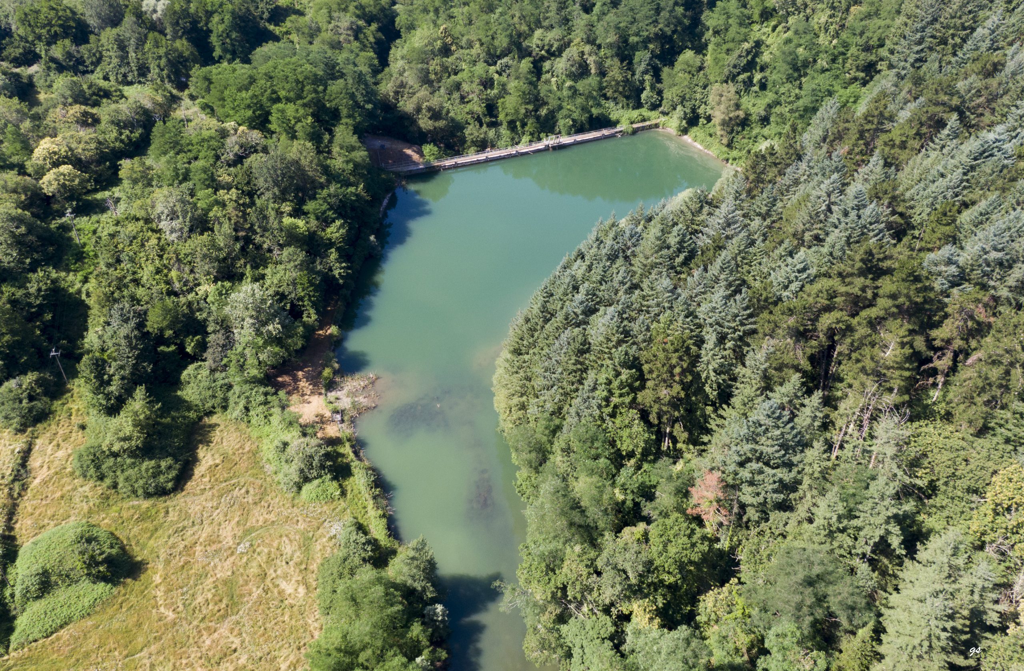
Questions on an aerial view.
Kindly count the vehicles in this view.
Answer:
none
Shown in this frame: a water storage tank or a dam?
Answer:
dam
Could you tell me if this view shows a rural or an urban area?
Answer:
rural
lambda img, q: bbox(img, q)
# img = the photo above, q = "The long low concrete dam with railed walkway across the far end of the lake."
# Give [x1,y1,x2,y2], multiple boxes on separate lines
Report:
[379,119,661,175]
